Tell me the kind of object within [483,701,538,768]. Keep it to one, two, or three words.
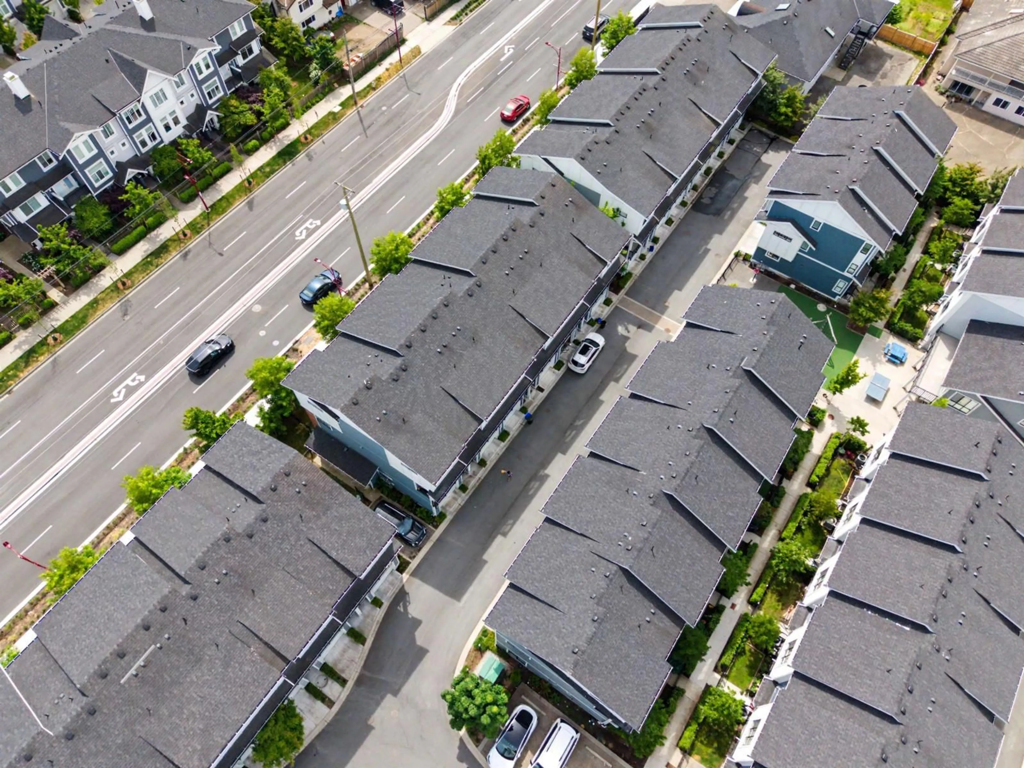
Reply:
car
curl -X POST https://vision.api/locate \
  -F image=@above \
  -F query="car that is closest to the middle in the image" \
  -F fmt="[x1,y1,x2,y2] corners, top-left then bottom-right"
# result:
[568,330,609,375]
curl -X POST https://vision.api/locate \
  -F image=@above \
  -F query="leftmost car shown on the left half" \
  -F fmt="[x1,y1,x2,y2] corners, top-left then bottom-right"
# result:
[183,331,236,377]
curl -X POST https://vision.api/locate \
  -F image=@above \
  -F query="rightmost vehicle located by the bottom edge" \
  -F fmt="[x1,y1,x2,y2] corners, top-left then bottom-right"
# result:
[528,718,578,768]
